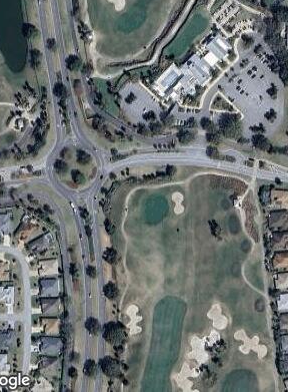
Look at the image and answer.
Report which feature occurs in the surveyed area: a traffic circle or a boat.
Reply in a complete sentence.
This aerial view contains a traffic circle.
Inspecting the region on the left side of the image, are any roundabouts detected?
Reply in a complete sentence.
Yes, looking on the left side of the image, one can make out a roundabout.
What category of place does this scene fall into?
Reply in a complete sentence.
What you see here is a golf course.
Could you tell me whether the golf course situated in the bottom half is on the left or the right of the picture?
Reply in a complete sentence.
The golf course situated in the bottom half sits on the right side.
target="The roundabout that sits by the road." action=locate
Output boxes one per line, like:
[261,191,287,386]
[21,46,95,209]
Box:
[46,137,107,198]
